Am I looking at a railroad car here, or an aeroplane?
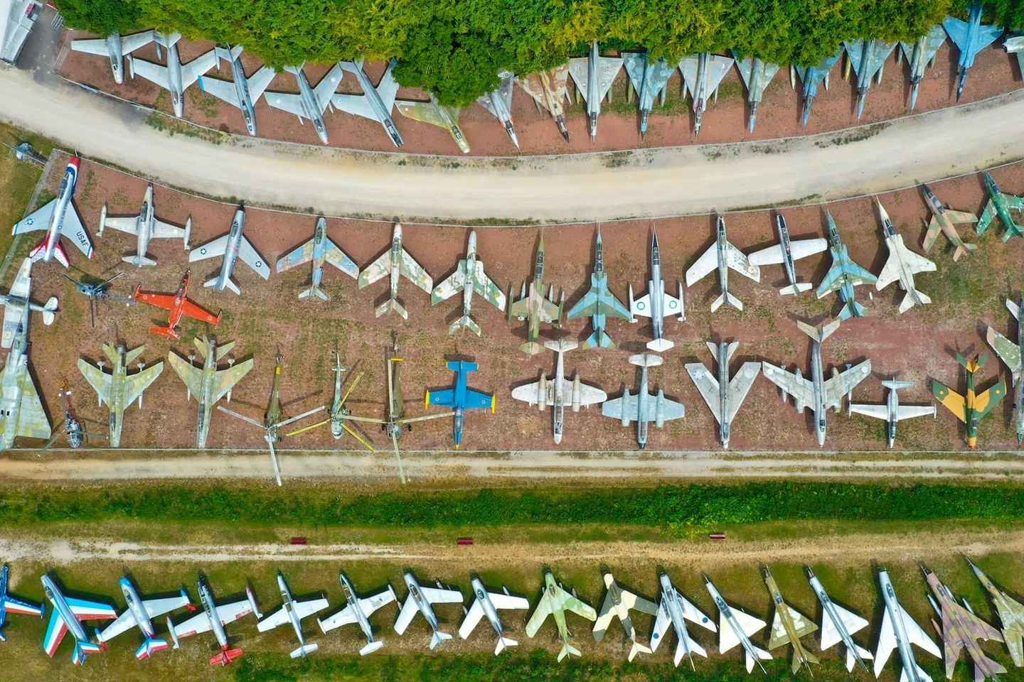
aeroplane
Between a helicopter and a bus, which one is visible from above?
helicopter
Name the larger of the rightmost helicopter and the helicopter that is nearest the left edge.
the rightmost helicopter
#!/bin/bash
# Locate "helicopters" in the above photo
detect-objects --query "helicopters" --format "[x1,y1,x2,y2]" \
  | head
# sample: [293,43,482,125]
[220,352,326,485]
[45,374,97,450]
[2,142,50,168]
[341,343,455,483]
[288,348,377,451]
[65,273,133,327]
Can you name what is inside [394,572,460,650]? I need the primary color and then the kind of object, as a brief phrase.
white airplane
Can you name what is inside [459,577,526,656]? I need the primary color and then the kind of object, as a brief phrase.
white airplane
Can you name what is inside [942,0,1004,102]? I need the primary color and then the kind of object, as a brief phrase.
blue airplane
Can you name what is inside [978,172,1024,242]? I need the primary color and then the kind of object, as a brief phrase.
green airplane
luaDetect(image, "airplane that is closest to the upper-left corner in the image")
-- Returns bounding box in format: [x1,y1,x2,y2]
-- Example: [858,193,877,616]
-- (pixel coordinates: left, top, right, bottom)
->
[70,28,161,85]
